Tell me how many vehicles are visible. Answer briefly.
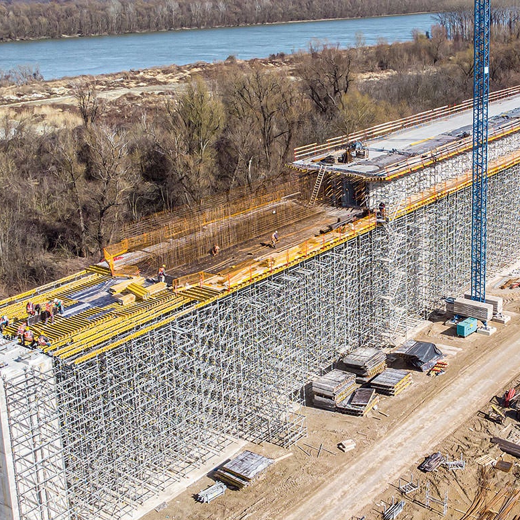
none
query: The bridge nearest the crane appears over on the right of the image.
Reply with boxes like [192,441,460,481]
[303,92,520,209]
